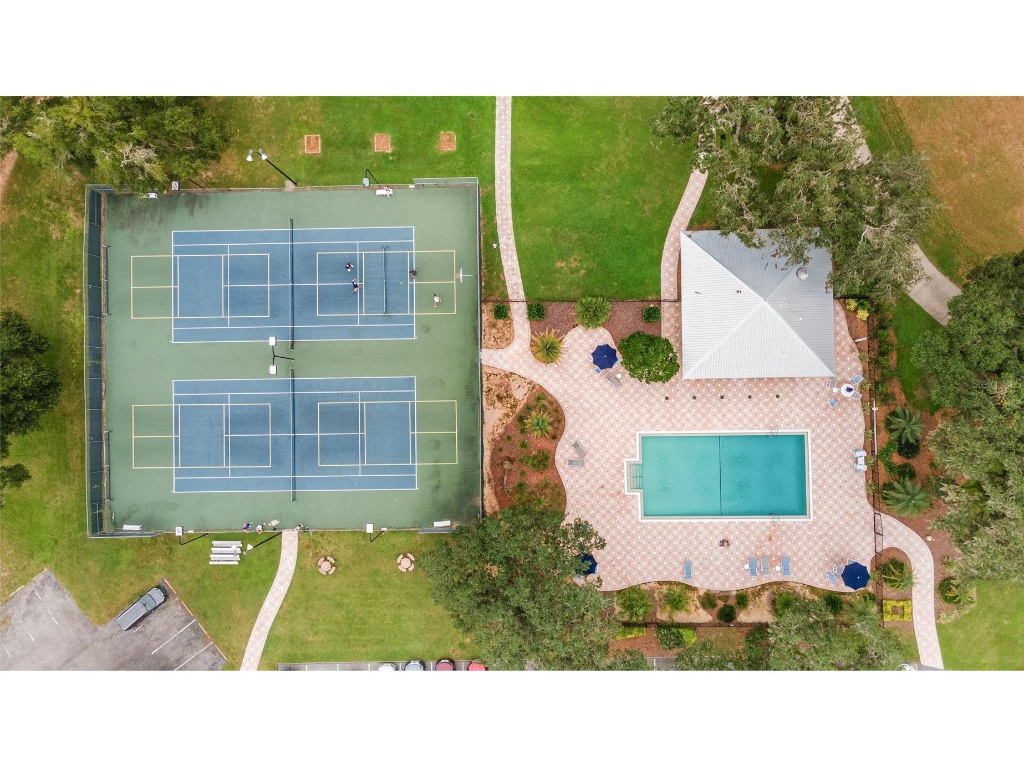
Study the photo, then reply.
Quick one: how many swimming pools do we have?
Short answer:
1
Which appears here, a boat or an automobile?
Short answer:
automobile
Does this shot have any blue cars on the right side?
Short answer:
No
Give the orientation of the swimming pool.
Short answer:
from left to right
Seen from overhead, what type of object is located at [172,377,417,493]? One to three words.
tennis court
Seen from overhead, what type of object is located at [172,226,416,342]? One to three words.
tennis court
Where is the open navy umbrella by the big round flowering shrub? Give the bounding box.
[592,343,617,368]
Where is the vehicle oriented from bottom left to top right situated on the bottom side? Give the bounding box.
[108,585,169,634]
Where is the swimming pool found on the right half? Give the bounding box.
[624,426,817,526]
